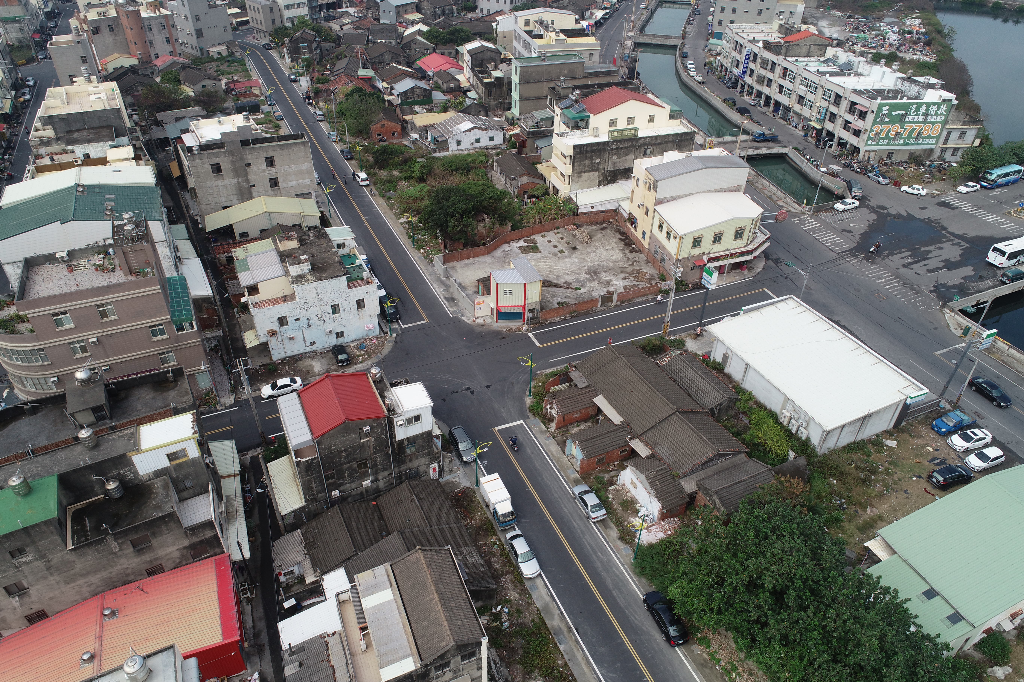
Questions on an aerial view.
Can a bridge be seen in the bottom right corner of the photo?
No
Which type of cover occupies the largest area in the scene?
buildings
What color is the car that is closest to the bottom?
black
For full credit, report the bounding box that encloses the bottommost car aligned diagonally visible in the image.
[643,592,689,647]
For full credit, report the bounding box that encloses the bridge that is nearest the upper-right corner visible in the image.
[704,131,790,159]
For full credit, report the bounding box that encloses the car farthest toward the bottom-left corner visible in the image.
[259,377,304,402]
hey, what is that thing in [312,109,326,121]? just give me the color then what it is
gray vehicle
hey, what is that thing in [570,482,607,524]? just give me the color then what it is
gray car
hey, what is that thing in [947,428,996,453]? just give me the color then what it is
white car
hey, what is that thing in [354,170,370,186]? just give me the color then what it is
white car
